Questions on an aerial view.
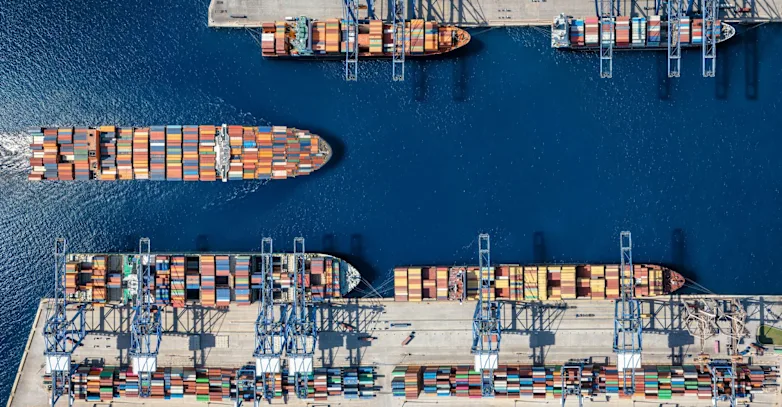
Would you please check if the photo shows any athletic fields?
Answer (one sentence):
No, I can't see a single athletic field in this photo.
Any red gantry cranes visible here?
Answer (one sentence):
No, the photo shows no red gantry crane.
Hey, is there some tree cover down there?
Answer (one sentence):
No, the scene doesn't show any tree cover.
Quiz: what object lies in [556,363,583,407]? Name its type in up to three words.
crane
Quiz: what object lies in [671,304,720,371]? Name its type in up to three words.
container crane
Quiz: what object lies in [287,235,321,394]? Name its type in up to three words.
container crane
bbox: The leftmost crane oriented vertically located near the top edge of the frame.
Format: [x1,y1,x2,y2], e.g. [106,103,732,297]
[338,0,370,79]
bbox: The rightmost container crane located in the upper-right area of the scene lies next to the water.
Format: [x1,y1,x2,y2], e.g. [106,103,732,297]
[675,0,723,79]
